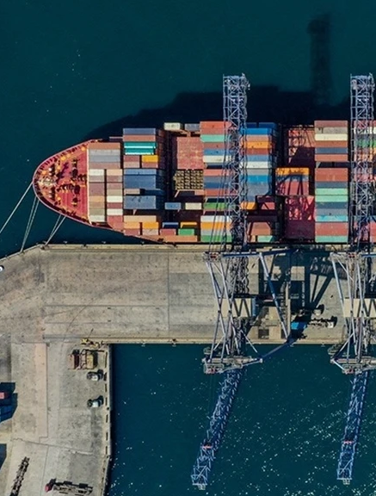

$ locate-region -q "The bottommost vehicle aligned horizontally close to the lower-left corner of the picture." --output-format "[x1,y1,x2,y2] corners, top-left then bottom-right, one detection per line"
[42,484,87,496]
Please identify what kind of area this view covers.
port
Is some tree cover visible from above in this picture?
No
